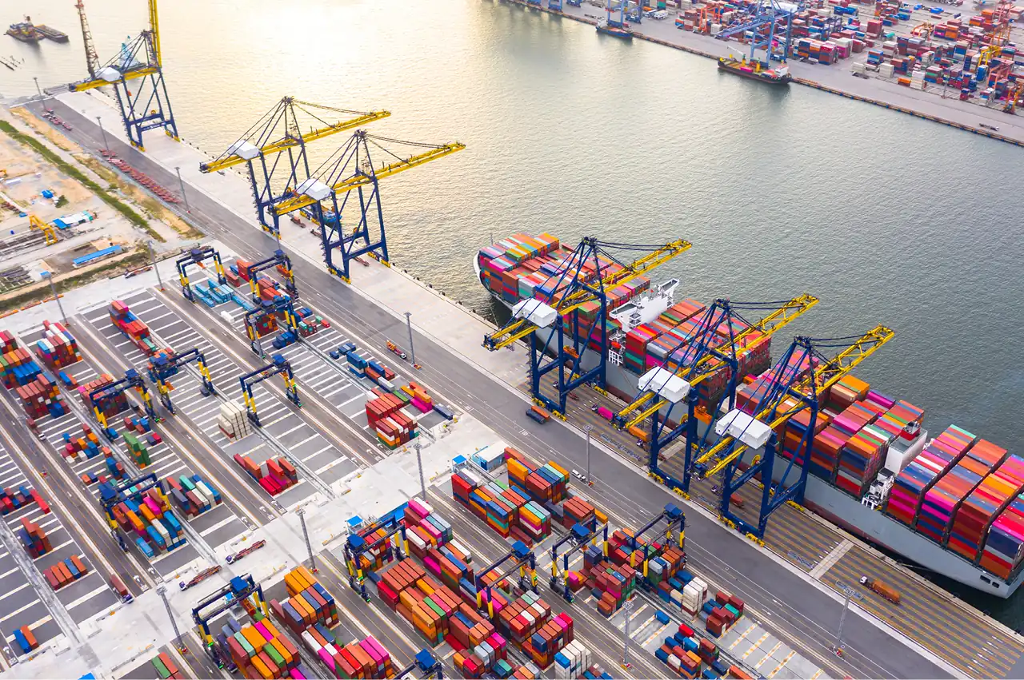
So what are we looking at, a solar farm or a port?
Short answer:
port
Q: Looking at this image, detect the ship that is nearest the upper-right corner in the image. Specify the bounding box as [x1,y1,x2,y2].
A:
[708,39,792,88]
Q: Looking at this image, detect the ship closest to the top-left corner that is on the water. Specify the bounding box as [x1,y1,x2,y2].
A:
[7,13,55,41]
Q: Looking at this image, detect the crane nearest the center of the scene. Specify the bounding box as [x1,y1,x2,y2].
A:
[479,231,694,423]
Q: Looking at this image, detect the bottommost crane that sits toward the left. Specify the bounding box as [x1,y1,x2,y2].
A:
[351,627,424,680]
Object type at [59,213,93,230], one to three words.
shed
